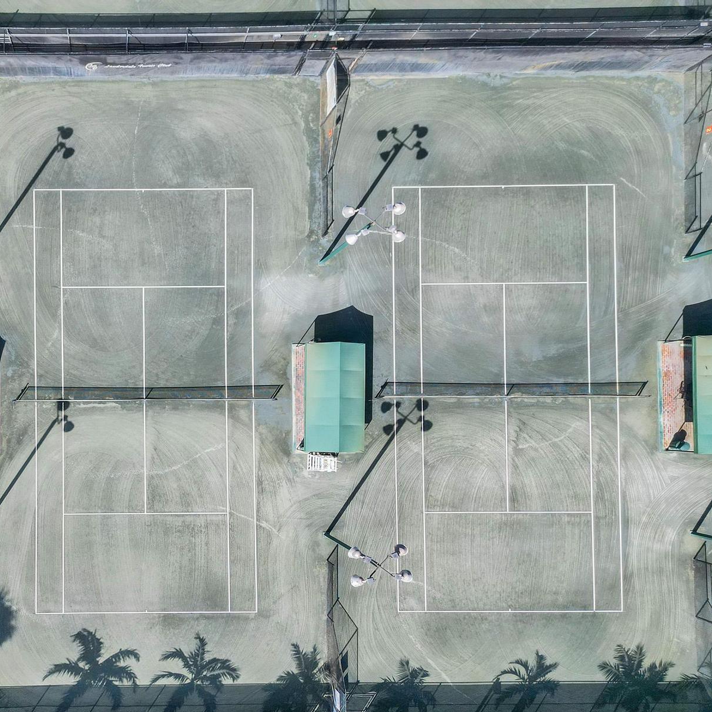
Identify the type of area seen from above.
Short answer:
sports ground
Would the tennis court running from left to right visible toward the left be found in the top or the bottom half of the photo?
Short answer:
top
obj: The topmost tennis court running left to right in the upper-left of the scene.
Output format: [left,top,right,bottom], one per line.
[0,0,324,52]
